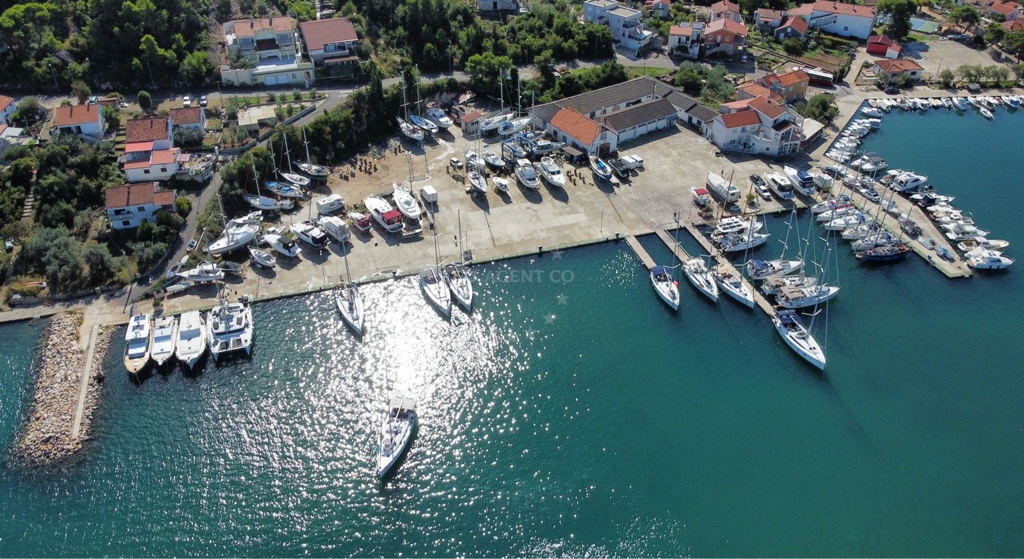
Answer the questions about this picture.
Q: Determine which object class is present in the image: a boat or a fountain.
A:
boat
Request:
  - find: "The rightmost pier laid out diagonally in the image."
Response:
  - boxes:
[685,225,779,319]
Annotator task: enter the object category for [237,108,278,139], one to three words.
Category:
shed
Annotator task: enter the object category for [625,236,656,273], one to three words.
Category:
pier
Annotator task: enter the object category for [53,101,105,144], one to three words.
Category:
house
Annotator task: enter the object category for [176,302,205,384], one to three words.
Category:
boat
